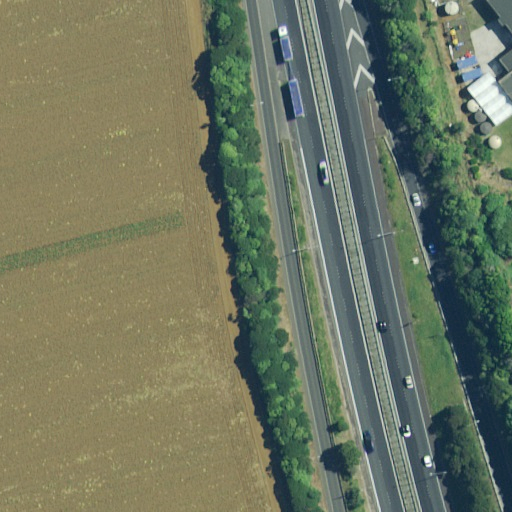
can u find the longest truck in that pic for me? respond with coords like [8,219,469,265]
[278,25,304,117]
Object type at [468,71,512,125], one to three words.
shed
